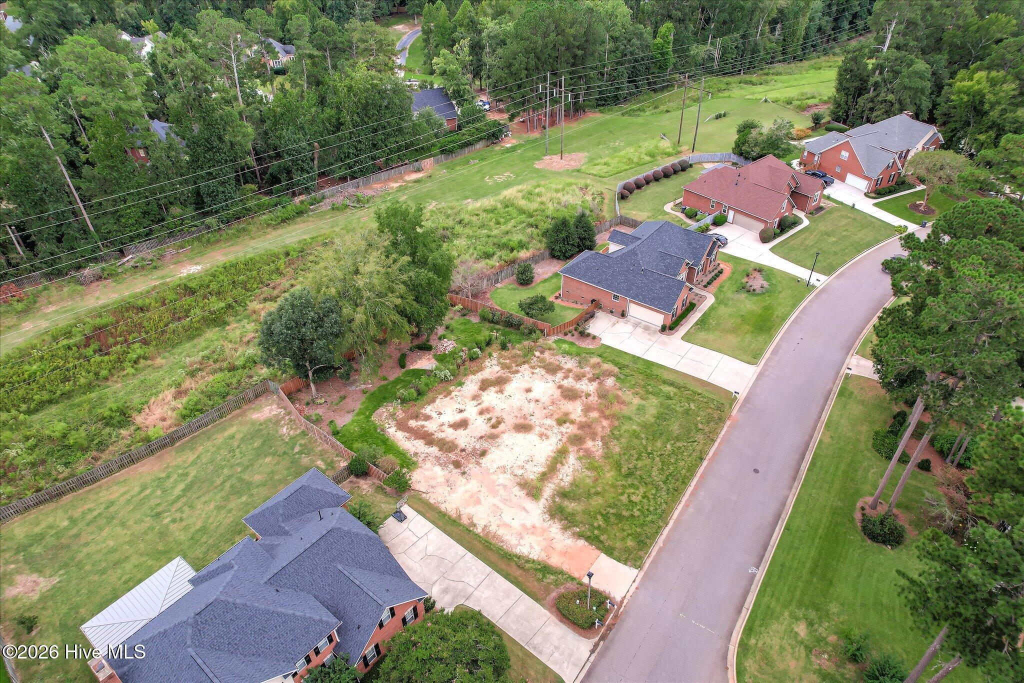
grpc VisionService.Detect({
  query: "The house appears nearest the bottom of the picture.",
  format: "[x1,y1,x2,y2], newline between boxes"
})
[80,468,428,683]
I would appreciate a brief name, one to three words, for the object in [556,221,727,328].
house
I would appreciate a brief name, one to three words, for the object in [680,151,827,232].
house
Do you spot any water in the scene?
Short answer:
No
